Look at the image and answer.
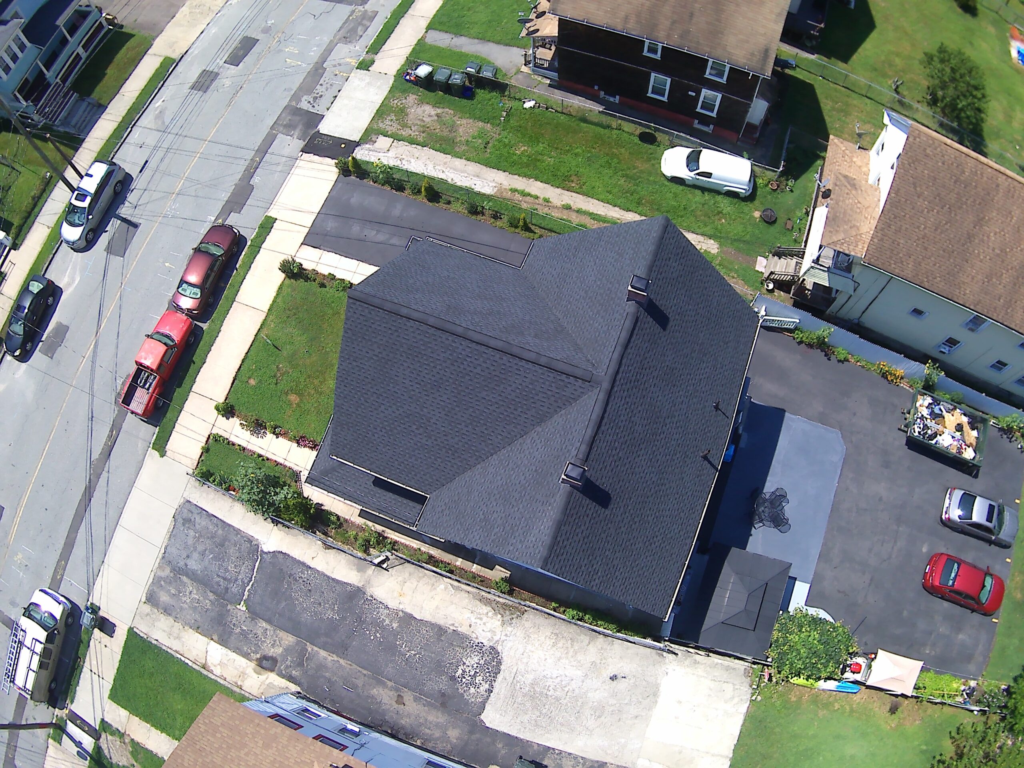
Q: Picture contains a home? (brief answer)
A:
Yes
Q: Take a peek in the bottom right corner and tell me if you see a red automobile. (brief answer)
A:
Yes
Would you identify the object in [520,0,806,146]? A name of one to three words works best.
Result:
house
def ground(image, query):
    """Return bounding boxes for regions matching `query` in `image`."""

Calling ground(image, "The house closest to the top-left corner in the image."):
[0,0,116,123]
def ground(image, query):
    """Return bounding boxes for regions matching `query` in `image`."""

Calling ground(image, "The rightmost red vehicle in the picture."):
[920,551,1006,614]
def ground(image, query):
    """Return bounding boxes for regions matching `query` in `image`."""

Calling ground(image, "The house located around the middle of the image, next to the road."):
[303,216,769,621]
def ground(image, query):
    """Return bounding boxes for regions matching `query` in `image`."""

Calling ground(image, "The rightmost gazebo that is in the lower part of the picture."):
[690,547,793,661]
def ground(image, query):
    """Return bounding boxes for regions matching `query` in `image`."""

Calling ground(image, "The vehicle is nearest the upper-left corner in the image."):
[56,156,128,250]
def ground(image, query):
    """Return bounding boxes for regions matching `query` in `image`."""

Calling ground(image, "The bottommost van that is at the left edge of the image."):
[0,592,77,707]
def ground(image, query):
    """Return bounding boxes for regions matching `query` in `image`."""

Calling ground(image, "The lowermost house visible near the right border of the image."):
[768,120,1024,388]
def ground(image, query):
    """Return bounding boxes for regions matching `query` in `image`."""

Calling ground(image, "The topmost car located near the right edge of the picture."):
[938,493,1019,546]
